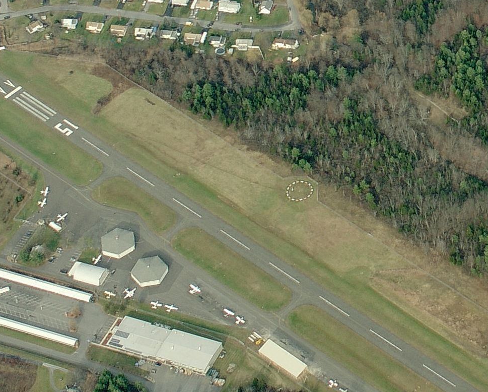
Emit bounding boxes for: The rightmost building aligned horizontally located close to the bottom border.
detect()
[104,317,222,373]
